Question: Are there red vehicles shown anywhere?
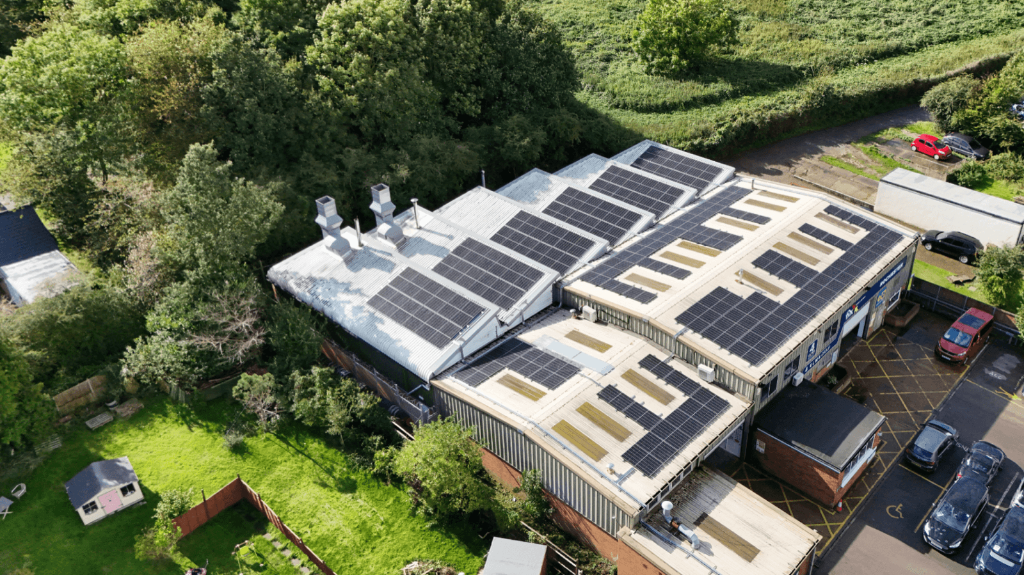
Yes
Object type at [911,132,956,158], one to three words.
car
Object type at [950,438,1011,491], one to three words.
car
